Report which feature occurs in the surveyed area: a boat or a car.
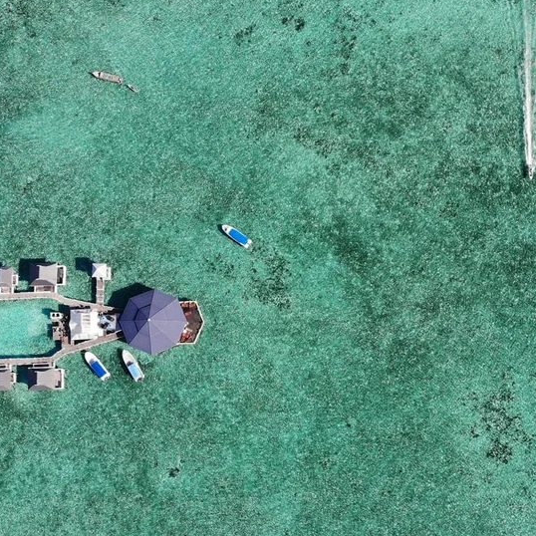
boat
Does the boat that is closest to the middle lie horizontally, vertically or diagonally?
diagonally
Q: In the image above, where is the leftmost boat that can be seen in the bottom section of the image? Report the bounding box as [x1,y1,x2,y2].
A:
[83,351,110,381]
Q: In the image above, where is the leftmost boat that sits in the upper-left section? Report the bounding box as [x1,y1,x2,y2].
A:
[92,71,124,84]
